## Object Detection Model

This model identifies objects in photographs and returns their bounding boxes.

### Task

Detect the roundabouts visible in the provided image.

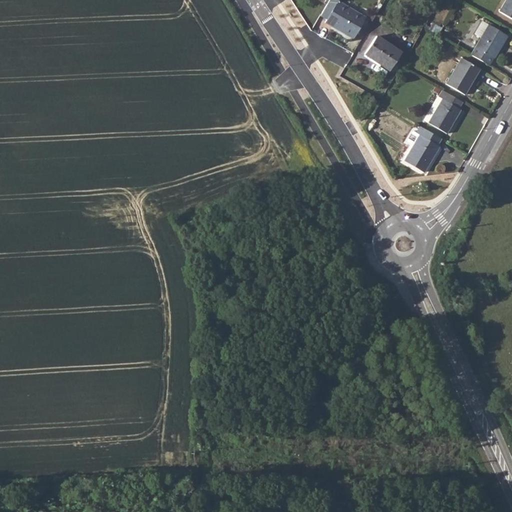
[375,214,434,274]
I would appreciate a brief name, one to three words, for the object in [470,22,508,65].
house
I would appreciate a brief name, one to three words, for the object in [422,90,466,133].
house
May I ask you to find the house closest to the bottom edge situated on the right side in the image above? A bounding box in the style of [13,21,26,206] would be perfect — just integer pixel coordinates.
[400,128,444,172]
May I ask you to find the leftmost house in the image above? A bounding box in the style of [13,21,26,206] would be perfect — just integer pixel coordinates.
[320,0,367,40]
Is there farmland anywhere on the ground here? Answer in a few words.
Yes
